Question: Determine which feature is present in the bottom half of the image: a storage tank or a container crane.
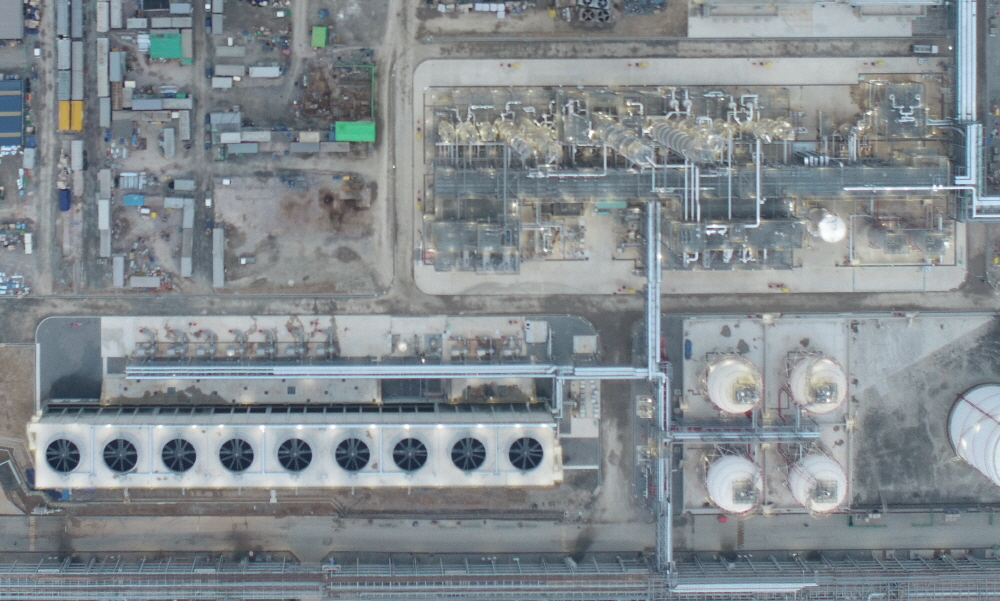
storage tank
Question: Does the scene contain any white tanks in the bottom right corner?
Yes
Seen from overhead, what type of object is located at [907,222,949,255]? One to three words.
storage tank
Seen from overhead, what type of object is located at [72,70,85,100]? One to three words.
building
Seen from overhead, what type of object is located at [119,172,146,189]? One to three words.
shed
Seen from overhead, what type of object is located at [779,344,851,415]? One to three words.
storage tank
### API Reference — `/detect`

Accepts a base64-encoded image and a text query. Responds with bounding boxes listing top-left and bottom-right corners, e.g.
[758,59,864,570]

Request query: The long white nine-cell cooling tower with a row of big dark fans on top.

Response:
[25,404,564,494]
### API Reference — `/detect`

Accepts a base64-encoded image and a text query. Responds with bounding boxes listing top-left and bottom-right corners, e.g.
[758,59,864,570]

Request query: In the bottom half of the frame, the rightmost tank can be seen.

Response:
[946,380,1000,490]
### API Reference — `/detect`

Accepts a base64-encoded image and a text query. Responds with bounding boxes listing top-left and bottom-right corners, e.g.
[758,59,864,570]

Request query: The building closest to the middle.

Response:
[523,318,548,343]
